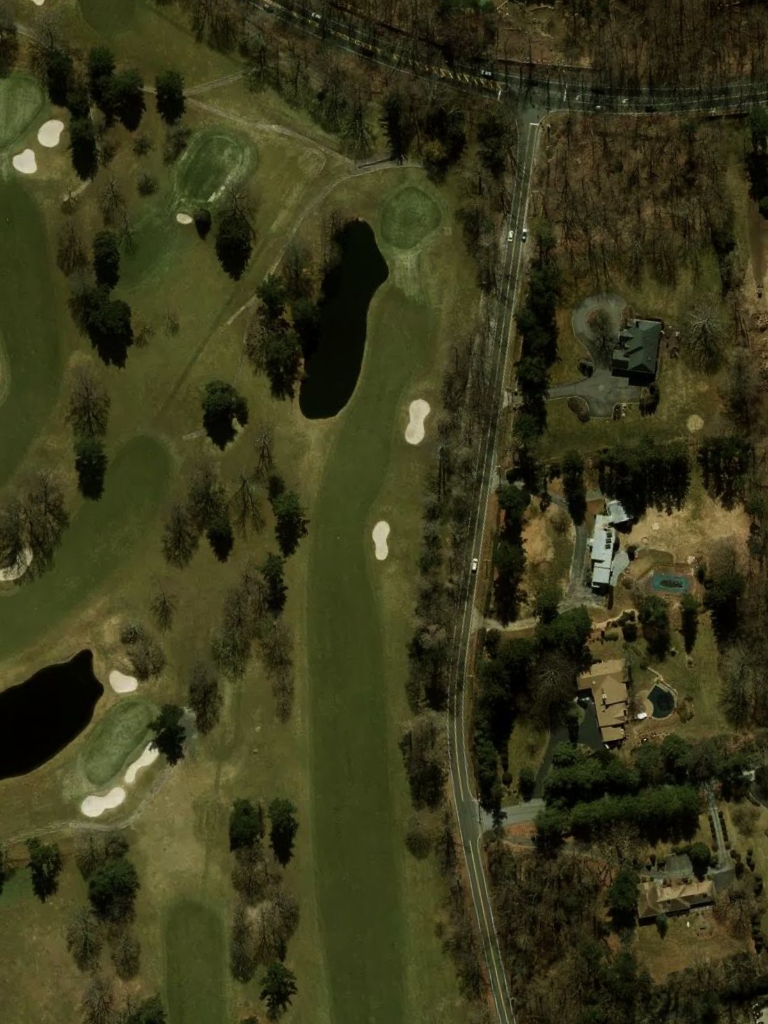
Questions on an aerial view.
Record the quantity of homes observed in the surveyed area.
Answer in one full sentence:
The picture shows 4 homes.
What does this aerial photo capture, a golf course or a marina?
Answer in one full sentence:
The area seen from above is a golf course.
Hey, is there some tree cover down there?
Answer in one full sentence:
Yes, the picture does contain tree cover.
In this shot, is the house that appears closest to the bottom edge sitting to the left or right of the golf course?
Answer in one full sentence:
The golf course has the house that appears closest to the bottom edge on its right side.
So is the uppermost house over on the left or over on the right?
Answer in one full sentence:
The uppermost house sits on the right side.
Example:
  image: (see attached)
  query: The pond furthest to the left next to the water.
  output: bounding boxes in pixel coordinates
[0,650,104,779]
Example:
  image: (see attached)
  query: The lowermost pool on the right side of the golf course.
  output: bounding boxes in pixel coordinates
[634,684,677,720]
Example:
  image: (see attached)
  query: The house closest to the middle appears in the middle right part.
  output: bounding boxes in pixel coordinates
[587,501,630,586]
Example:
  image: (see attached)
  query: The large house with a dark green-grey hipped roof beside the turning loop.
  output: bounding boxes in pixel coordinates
[612,318,662,373]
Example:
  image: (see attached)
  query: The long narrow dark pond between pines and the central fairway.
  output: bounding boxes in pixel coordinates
[299,219,389,420]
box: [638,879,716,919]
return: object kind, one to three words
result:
house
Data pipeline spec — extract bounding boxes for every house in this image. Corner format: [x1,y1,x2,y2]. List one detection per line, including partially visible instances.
[579,660,629,742]
[587,501,630,586]
[612,318,662,373]
[638,879,716,919]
